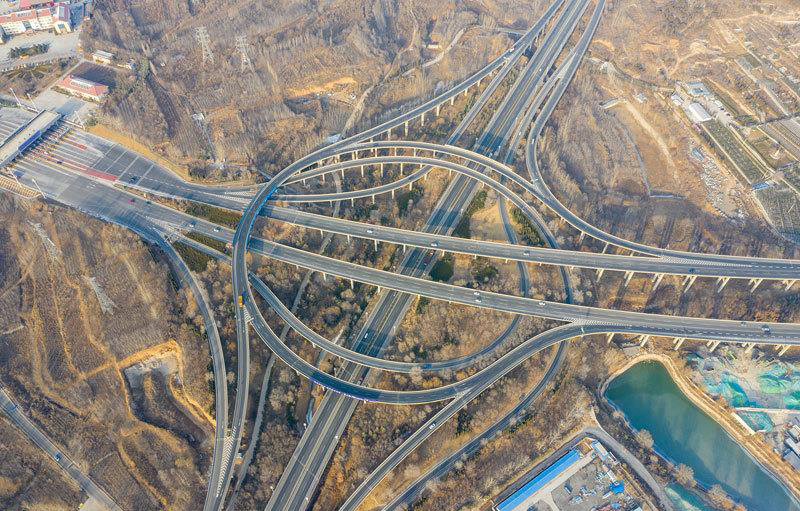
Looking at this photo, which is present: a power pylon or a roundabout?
power pylon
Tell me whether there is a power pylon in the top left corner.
Yes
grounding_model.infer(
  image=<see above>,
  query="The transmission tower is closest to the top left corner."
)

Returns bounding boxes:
[195,26,215,67]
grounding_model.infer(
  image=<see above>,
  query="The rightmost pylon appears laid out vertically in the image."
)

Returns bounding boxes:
[235,33,252,71]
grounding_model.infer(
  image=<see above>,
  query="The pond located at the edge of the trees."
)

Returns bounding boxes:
[601,360,800,511]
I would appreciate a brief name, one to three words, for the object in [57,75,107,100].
building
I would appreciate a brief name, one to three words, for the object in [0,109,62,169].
toll station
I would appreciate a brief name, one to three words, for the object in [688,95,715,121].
shed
